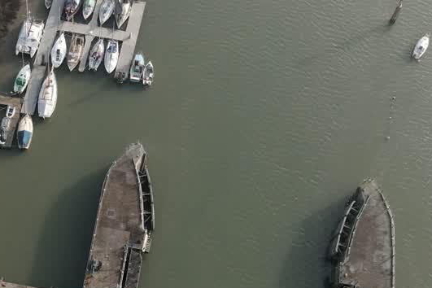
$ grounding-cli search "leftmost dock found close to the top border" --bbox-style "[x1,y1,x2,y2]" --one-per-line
[22,0,65,115]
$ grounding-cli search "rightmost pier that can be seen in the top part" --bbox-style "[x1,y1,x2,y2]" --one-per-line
[115,1,146,81]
